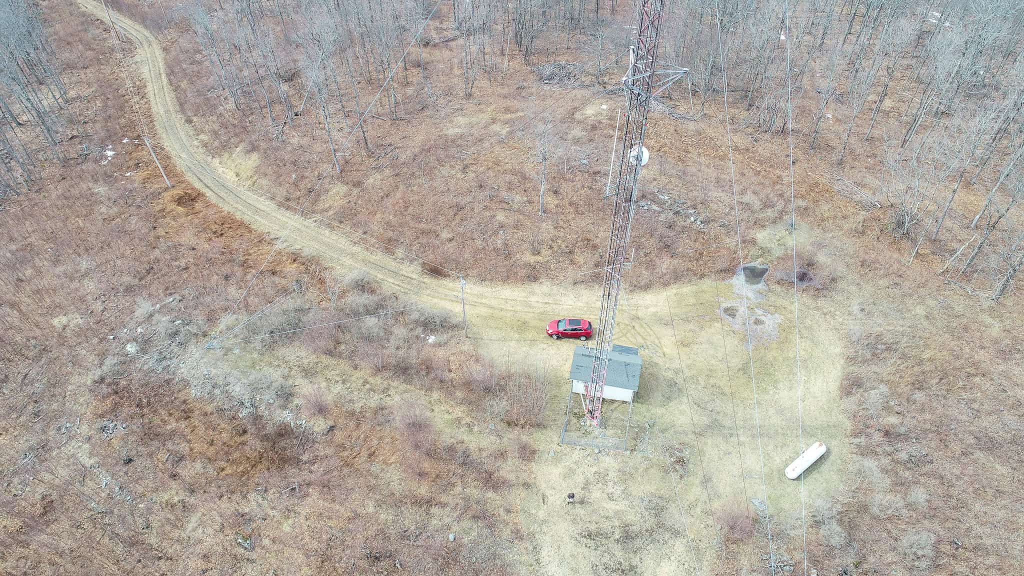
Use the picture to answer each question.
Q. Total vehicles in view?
1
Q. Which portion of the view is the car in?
center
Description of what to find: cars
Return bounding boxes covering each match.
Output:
[546,317,594,342]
